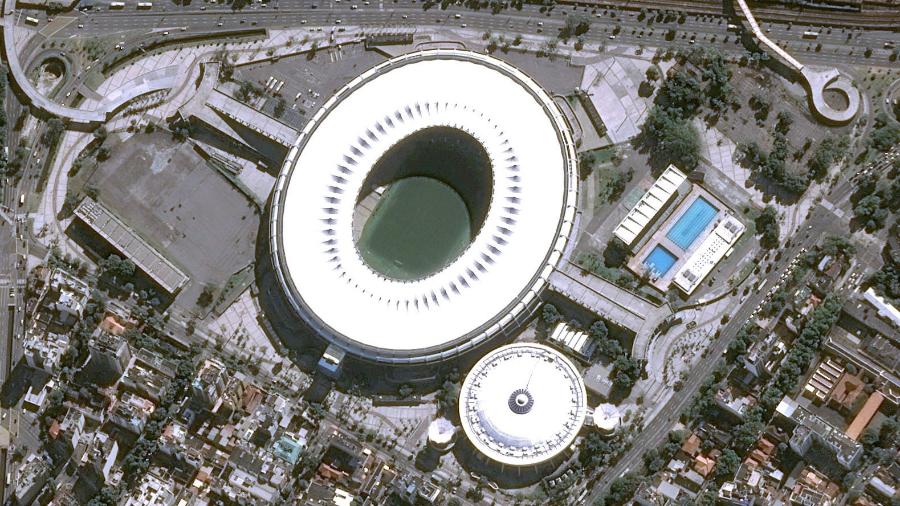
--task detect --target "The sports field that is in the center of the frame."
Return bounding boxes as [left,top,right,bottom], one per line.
[368,158,478,275]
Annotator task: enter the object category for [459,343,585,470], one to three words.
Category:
stadium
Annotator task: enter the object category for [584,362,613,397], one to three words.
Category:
building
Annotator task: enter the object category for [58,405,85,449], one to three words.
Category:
building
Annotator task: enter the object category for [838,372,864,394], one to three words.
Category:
house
